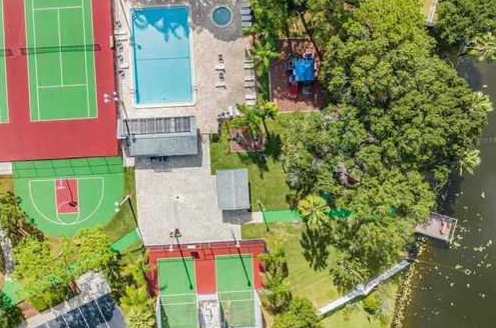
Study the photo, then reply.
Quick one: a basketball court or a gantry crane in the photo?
basketball court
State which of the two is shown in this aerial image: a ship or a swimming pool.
swimming pool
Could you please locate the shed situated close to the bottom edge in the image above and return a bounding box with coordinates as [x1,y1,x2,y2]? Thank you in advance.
[201,299,220,328]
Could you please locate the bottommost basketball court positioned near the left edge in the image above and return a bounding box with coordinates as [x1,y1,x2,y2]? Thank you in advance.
[12,158,124,239]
